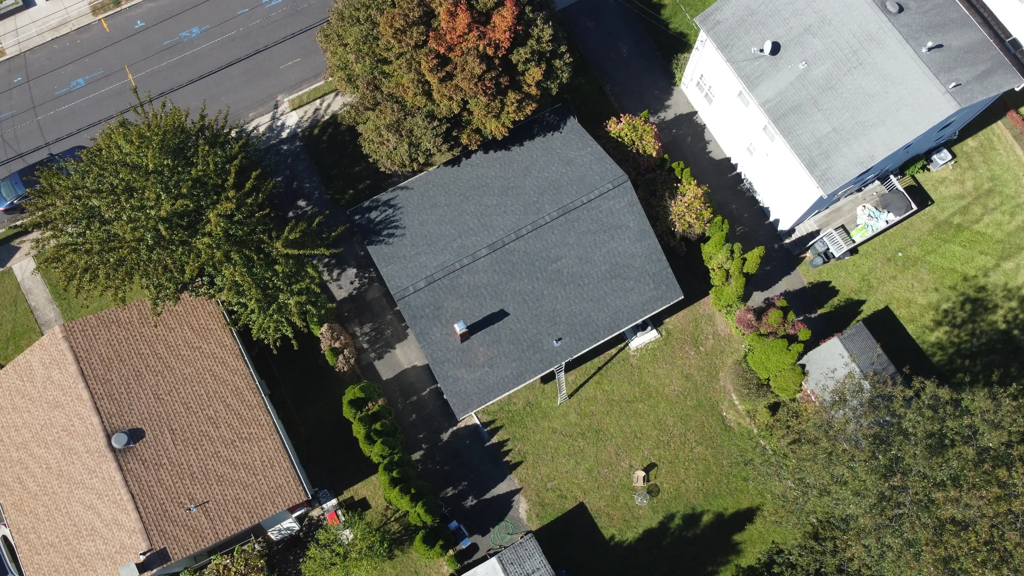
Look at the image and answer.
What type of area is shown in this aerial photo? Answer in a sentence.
This looks like a residential area.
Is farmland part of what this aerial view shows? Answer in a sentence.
No, no farmland is visible.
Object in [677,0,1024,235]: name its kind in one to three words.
house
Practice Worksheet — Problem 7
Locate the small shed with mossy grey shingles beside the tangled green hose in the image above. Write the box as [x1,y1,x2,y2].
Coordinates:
[461,533,555,576]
